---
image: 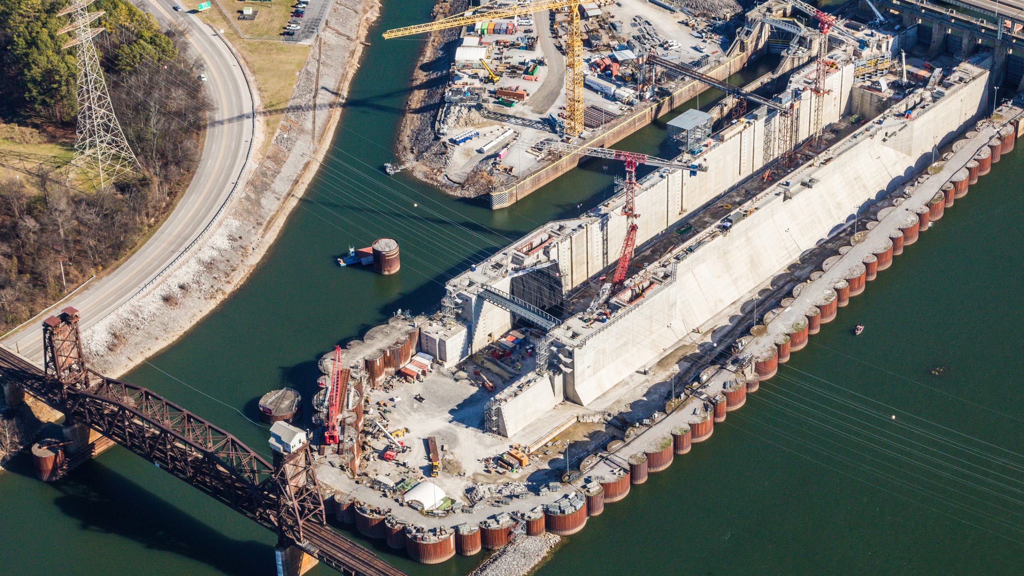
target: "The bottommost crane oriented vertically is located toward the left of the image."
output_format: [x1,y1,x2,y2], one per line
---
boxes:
[320,344,344,444]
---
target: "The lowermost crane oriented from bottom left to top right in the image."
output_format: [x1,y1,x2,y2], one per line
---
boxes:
[581,224,633,302]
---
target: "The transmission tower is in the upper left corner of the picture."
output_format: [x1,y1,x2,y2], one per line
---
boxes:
[52,0,142,194]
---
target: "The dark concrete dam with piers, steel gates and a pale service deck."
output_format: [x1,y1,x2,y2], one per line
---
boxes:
[864,0,1024,110]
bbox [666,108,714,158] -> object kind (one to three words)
building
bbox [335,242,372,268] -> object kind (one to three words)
boat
